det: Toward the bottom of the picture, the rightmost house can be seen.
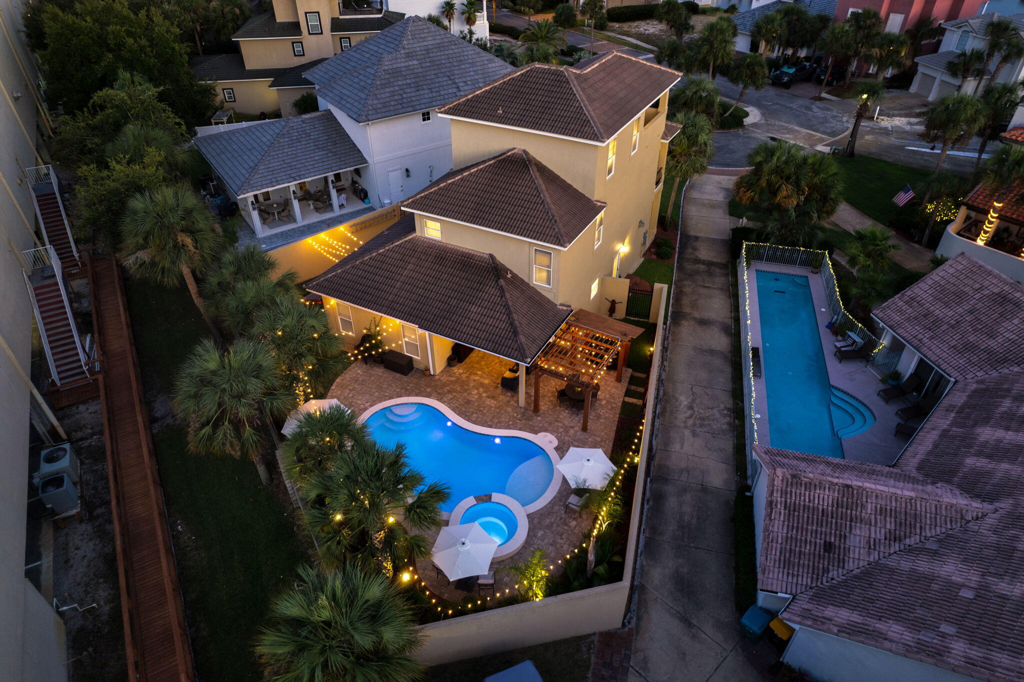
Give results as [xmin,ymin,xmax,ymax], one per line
[732,249,1024,682]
